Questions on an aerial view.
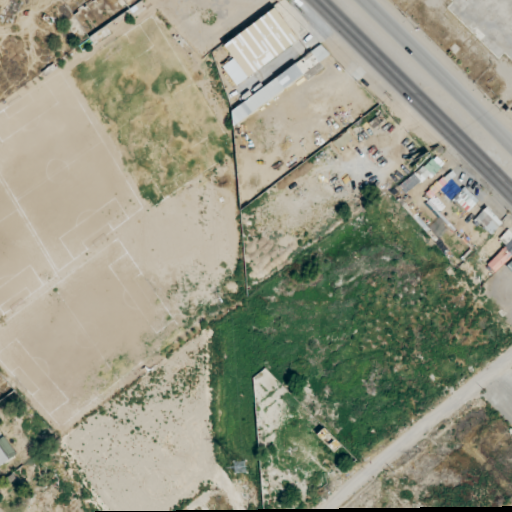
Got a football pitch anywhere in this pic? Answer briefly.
Yes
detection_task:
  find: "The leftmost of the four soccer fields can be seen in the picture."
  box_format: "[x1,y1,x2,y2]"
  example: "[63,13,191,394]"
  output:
[0,180,56,318]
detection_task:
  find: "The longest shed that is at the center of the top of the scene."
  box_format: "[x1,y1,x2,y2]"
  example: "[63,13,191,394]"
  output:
[228,44,330,124]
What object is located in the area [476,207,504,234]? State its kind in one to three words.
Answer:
house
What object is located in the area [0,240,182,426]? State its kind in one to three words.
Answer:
soccer field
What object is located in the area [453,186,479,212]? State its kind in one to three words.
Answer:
building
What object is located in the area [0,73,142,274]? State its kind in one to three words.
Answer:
soccer field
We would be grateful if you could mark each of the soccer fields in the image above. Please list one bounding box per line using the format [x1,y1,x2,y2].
[0,240,182,426]
[0,180,56,318]
[65,18,232,204]
[0,73,142,274]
